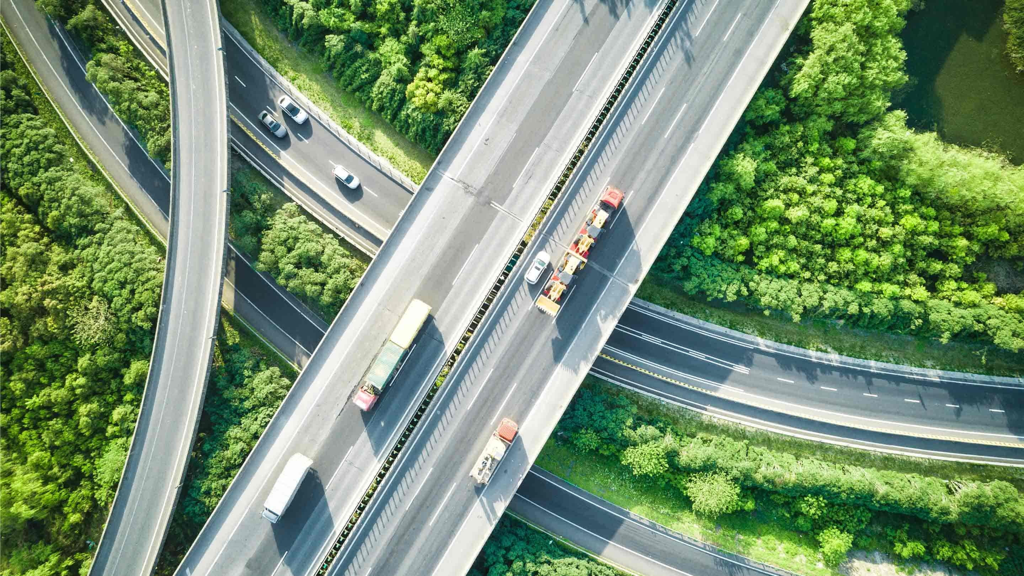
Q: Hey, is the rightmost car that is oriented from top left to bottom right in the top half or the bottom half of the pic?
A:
top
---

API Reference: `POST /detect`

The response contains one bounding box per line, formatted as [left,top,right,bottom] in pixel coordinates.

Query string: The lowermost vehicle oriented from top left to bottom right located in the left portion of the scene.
[330,164,360,191]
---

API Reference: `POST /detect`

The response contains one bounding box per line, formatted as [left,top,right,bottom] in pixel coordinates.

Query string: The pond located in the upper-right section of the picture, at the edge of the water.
[874,0,1024,208]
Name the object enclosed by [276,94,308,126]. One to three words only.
car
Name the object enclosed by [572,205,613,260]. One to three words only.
work vehicle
